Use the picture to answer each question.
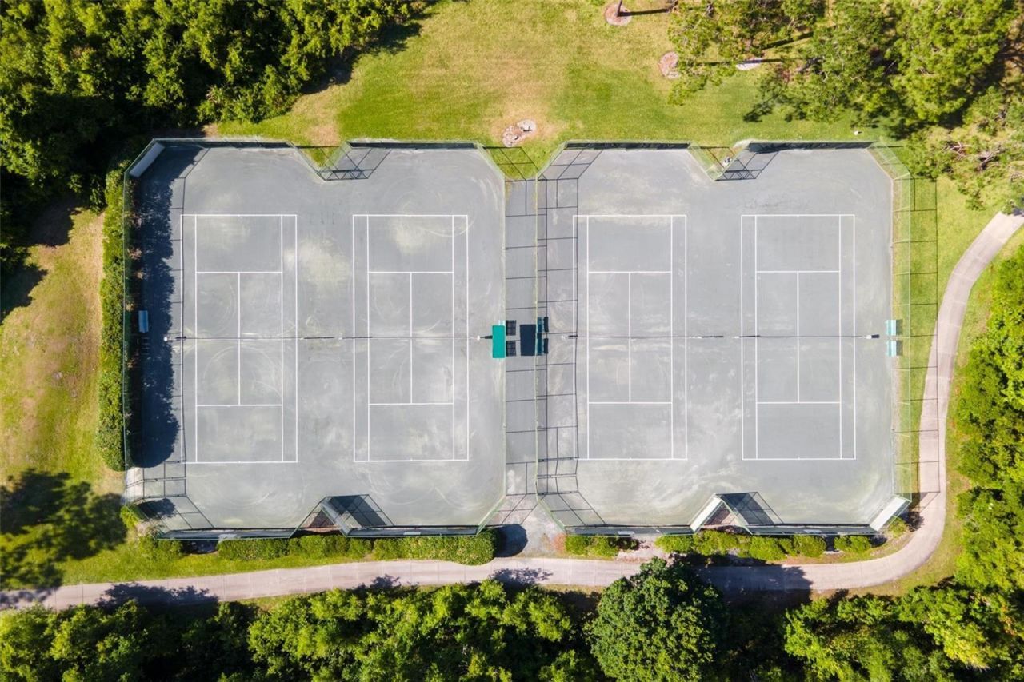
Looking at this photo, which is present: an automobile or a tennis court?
tennis court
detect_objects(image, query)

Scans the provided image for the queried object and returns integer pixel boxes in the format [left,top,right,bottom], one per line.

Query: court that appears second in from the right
[538,150,716,526]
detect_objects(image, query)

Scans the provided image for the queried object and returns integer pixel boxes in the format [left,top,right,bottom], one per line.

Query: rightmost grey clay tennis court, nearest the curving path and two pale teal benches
[715,150,894,525]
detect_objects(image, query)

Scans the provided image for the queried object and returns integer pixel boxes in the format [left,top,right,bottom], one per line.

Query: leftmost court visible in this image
[142,148,326,530]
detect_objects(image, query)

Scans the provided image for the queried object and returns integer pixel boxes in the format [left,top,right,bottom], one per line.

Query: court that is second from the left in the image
[325,150,505,527]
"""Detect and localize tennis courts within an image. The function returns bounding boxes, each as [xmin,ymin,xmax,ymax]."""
[538,150,716,526]
[325,150,505,527]
[142,148,326,530]
[715,150,894,525]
